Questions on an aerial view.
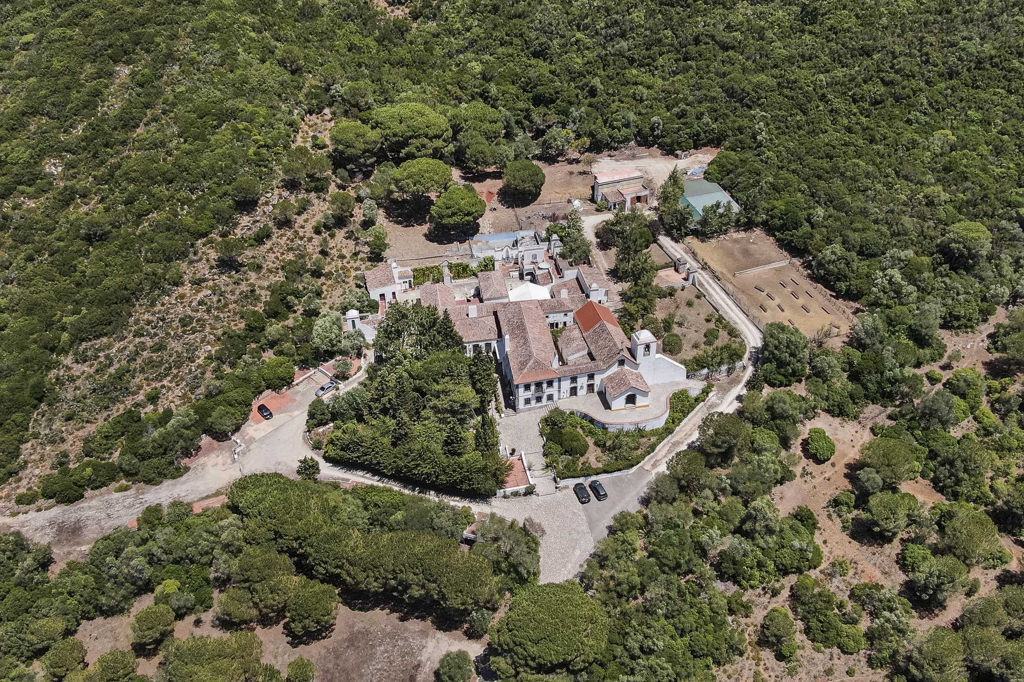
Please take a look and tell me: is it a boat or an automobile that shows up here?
automobile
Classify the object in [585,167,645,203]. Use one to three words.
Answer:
barn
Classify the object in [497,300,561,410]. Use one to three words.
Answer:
house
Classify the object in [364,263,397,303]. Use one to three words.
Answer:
house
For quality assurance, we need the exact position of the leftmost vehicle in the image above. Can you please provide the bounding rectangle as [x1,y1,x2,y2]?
[257,402,272,417]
